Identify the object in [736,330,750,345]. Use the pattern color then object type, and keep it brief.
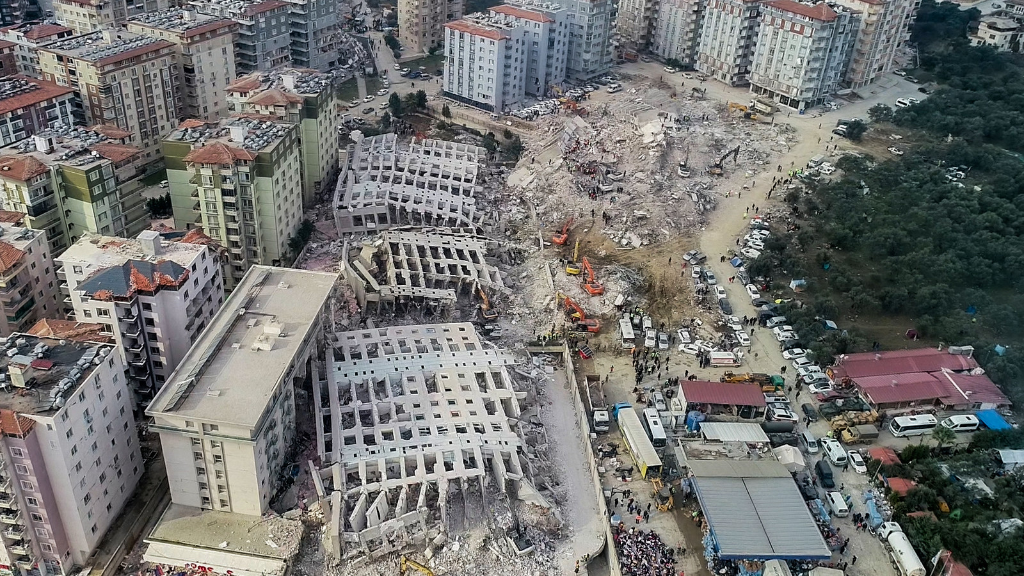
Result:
white car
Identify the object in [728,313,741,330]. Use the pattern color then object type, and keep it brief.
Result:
white vehicle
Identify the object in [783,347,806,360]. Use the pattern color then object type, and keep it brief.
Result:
white vehicle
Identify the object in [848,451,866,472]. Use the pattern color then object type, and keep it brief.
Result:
white car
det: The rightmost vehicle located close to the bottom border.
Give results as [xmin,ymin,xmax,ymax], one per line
[885,512,933,576]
